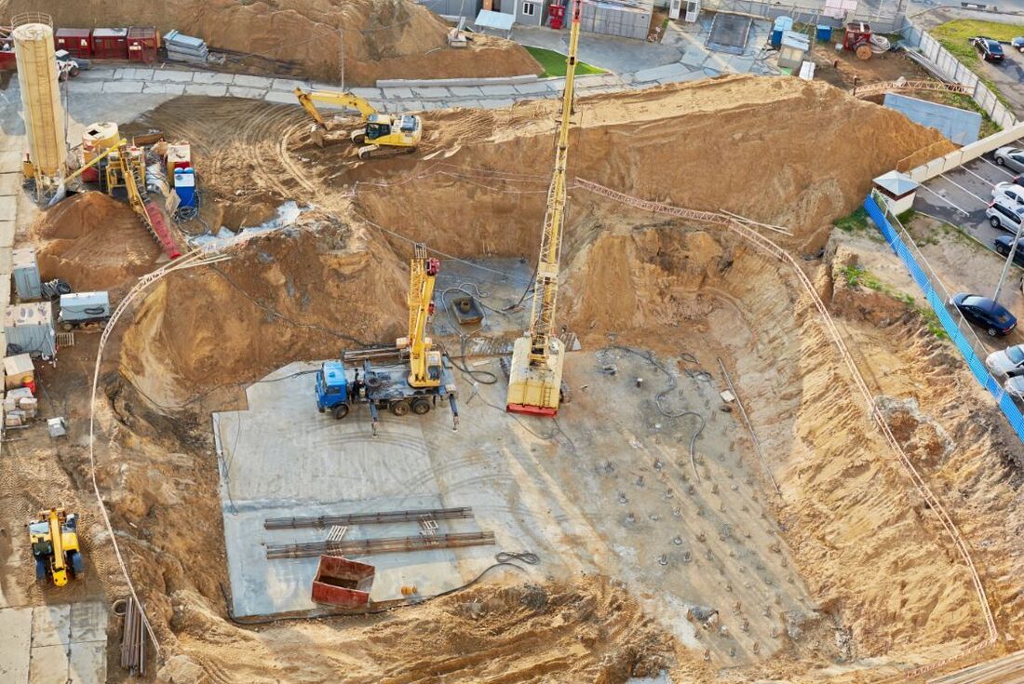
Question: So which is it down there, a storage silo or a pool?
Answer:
storage silo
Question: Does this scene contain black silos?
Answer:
No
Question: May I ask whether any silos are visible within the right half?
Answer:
No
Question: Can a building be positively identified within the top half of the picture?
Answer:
Yes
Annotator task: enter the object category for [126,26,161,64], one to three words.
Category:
building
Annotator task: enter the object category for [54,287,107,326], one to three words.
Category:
trailer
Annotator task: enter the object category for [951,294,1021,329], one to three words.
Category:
car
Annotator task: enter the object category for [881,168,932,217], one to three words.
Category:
shed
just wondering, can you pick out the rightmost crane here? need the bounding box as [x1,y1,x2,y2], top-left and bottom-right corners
[506,0,587,417]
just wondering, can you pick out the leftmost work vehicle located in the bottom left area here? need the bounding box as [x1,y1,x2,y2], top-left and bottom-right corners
[25,496,85,580]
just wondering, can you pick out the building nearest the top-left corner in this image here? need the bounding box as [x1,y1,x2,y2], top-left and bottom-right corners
[52,23,94,61]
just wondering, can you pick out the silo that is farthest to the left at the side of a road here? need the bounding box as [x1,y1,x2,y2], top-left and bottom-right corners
[5,6,68,190]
